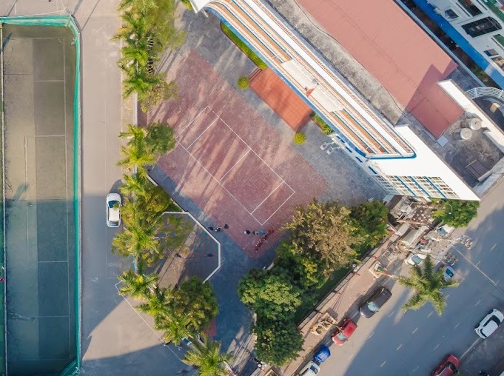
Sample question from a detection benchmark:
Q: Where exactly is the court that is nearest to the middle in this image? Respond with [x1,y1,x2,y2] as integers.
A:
[148,49,335,258]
